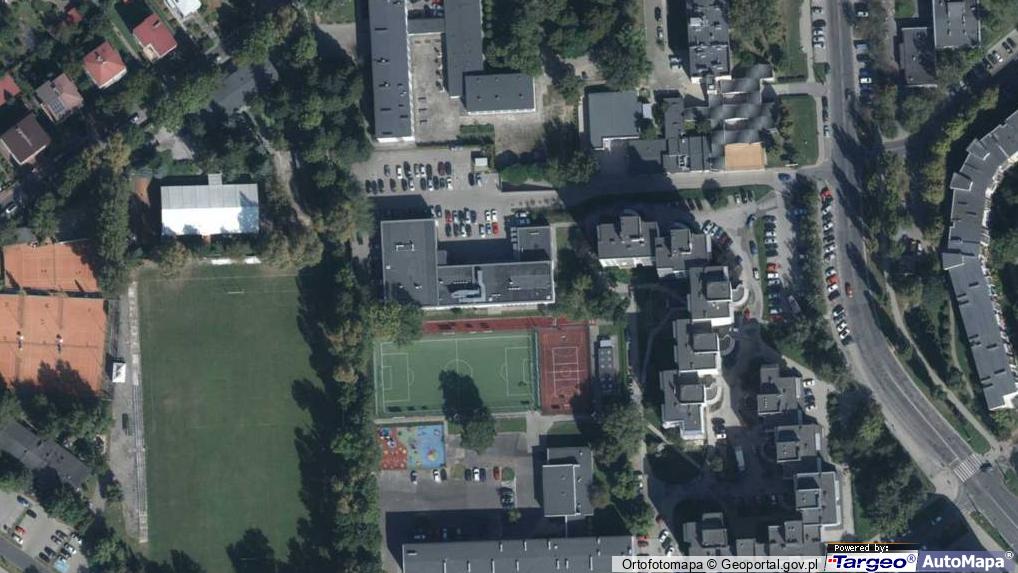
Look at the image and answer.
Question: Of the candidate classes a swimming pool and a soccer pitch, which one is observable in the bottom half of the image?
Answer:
soccer pitch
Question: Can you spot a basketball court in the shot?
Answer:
Yes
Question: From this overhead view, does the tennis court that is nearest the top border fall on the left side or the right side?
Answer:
left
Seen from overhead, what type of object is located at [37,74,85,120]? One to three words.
house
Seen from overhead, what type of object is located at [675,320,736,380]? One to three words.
building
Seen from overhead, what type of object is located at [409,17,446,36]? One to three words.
building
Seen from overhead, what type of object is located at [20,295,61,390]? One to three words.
tennis court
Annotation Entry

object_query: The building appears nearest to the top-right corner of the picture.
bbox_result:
[933,0,980,52]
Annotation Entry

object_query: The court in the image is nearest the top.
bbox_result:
[3,239,97,290]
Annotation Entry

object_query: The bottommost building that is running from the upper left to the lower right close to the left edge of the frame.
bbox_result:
[0,418,89,489]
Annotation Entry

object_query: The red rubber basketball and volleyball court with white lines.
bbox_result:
[541,328,592,415]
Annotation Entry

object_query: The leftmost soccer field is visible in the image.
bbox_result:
[139,262,351,573]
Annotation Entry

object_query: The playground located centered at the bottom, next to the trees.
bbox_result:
[377,424,445,471]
